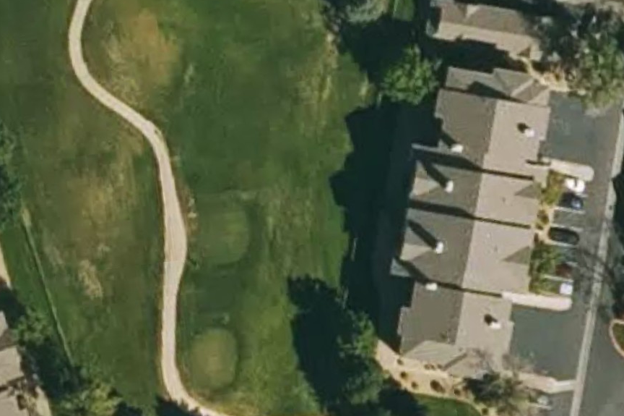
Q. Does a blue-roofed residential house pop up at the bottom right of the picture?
No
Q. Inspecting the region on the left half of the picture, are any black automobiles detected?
No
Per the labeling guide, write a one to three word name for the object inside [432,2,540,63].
house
